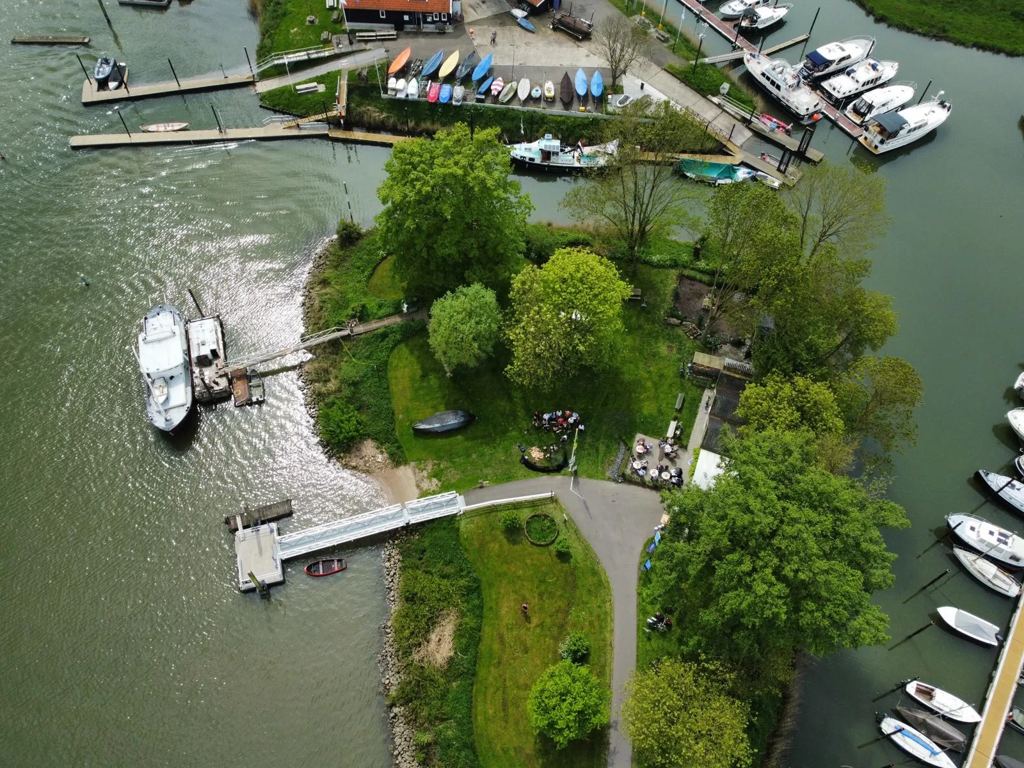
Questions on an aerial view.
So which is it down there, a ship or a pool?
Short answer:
ship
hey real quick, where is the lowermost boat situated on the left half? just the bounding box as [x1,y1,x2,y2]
[304,554,348,578]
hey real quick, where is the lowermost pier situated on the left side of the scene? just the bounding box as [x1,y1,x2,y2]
[235,511,285,594]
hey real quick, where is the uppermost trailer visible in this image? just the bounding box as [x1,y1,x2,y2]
[549,2,595,44]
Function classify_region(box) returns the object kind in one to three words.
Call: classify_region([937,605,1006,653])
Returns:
boat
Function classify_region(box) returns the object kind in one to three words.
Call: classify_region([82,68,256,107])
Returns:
pier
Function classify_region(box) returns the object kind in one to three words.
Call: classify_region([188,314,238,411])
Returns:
ship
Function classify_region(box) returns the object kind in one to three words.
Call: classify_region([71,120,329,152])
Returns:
pier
